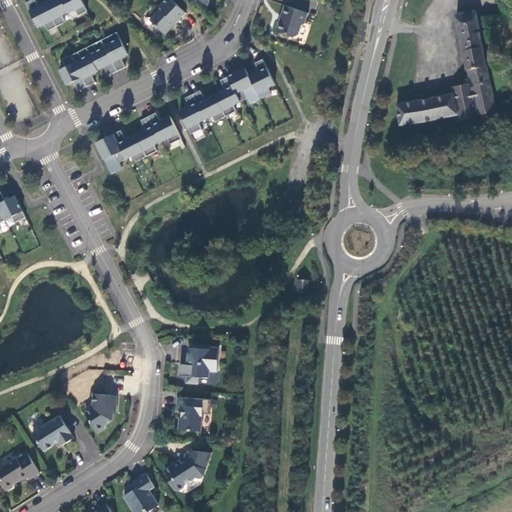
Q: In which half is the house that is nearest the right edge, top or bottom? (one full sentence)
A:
You can find the house that is nearest the right edge in the top half.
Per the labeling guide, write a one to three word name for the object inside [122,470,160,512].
house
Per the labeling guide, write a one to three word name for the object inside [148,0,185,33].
house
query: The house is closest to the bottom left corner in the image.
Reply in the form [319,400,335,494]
[0,454,37,494]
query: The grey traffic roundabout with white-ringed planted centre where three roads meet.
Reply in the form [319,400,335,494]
[324,204,396,276]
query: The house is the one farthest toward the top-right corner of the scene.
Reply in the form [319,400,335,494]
[398,10,495,125]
